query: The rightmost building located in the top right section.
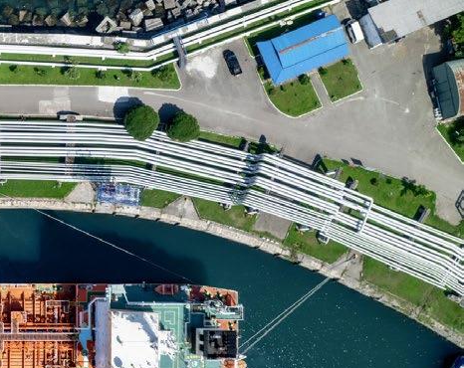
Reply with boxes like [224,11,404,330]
[431,63,464,116]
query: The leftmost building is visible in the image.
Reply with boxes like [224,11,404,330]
[251,13,350,86]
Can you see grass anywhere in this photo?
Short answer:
Yes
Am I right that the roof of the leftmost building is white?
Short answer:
No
